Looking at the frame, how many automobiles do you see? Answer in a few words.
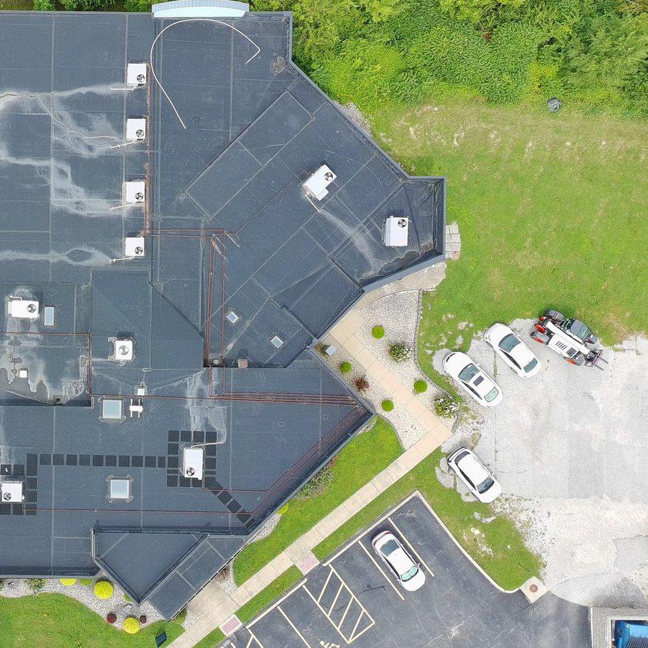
4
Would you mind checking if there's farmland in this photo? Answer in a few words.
No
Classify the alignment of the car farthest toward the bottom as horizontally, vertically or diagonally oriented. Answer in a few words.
diagonally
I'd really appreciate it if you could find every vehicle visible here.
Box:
[477,319,545,382]
[443,444,503,505]
[368,526,427,593]
[439,347,506,411]
[523,304,602,374]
